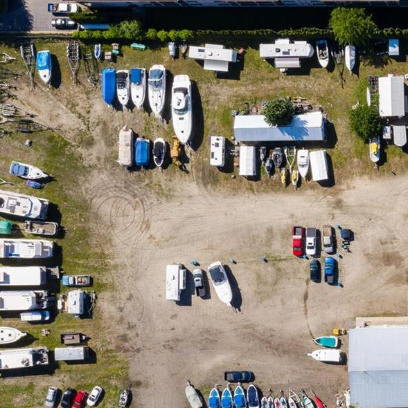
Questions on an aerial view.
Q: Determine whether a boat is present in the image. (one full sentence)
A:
Yes, a boat is visible in the scene.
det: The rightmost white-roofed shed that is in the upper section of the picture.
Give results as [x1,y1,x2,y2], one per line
[379,76,406,116]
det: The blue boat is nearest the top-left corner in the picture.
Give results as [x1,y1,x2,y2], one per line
[37,50,53,84]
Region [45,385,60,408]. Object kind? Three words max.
car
